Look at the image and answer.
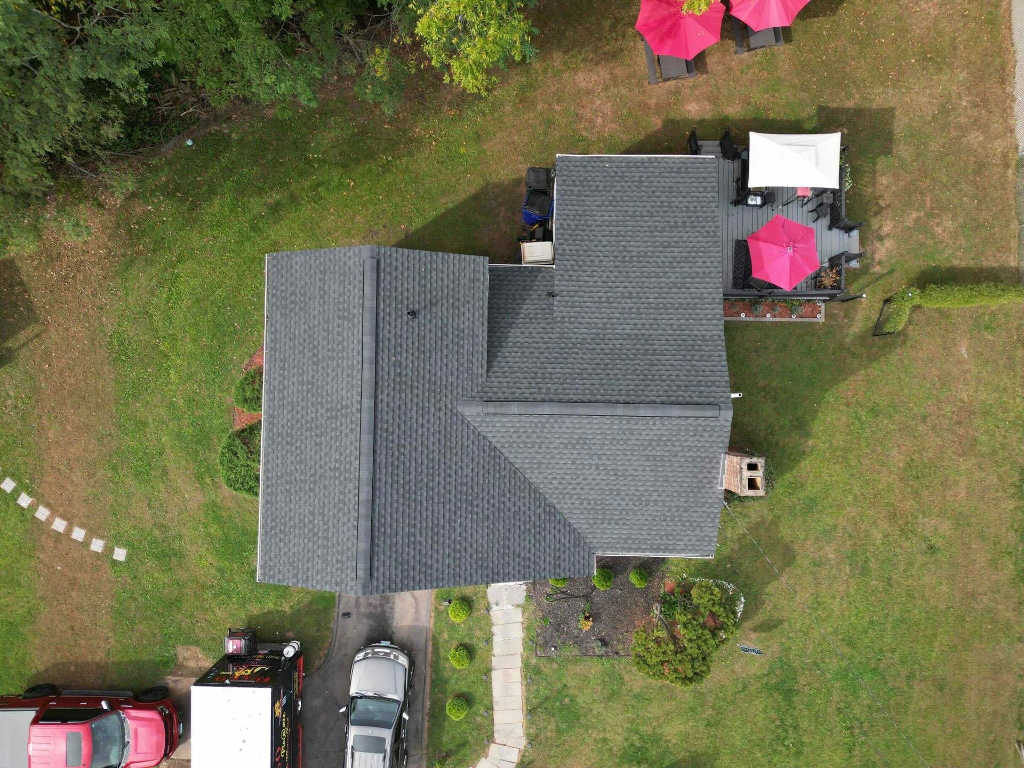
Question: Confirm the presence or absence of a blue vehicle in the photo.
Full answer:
No, the photo shows no blue vehicle.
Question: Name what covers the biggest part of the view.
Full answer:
For the most part, this view shows grass.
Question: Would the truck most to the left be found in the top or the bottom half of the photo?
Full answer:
It is in the bottom half that the truck most to the left appears.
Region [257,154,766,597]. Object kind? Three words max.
house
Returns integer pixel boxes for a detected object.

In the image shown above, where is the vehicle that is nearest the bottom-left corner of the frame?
[0,690,188,768]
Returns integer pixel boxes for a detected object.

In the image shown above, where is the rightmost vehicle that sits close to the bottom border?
[339,641,414,768]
